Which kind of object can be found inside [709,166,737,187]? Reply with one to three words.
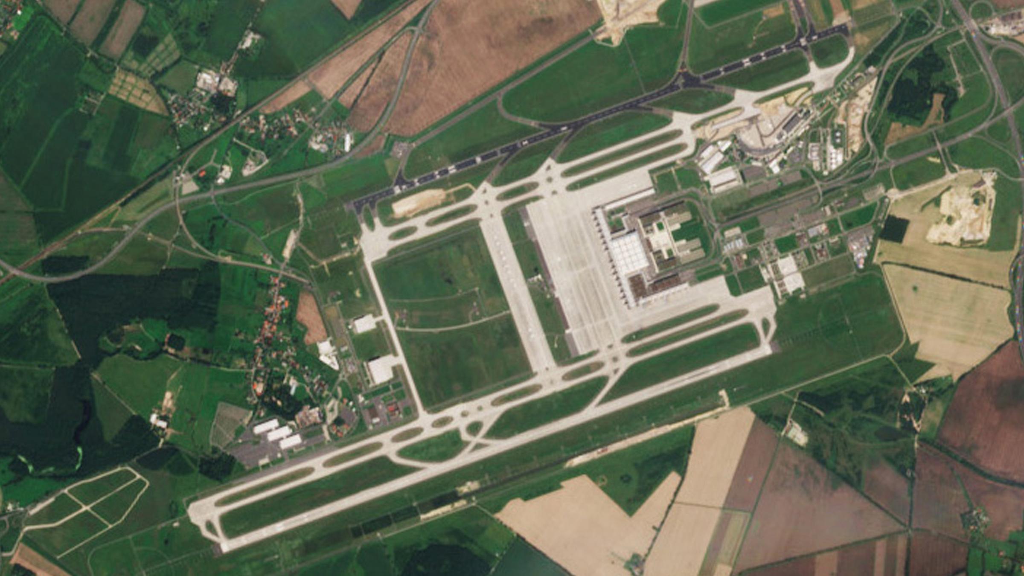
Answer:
hangar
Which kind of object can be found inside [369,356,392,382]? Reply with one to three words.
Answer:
hangar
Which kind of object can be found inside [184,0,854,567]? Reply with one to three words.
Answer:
airport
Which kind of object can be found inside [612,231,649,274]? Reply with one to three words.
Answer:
building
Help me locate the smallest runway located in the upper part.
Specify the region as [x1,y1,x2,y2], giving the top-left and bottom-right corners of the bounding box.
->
[354,26,848,209]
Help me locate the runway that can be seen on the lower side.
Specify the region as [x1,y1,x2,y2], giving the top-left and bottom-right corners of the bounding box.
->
[219,343,772,553]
